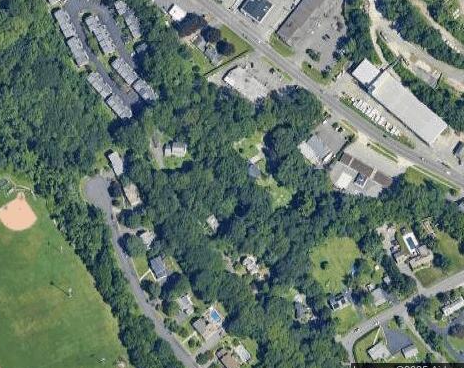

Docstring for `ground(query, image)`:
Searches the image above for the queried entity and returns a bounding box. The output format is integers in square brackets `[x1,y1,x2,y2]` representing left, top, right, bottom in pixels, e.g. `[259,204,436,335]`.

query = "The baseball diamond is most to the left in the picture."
[0,189,36,230]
